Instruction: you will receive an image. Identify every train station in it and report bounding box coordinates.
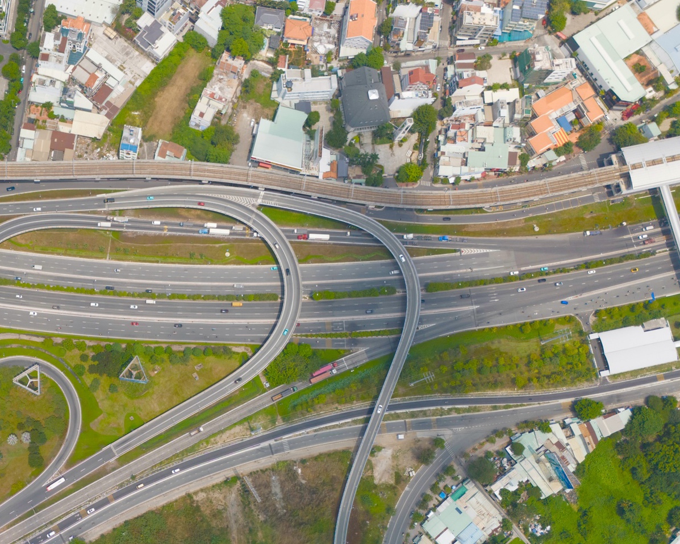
[607,137,680,198]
